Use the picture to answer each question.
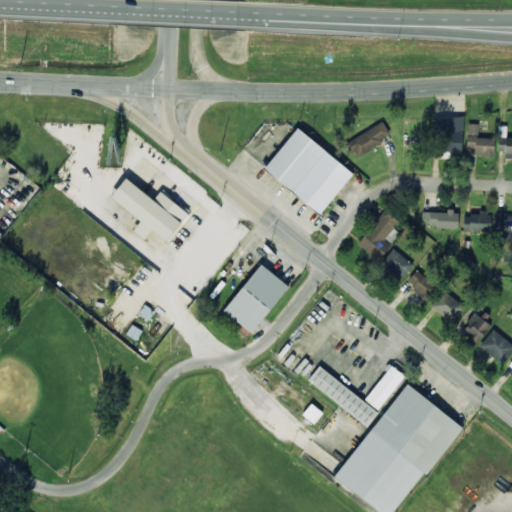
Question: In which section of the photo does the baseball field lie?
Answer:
bottom left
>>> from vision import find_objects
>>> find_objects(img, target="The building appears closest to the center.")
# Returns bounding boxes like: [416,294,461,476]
[224,265,289,332]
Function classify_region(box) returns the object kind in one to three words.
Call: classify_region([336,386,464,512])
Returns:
warehouse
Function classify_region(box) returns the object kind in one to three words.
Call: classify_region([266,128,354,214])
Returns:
building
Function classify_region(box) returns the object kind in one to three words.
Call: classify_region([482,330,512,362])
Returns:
house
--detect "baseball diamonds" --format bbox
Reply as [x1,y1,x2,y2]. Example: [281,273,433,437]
[0,292,102,476]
